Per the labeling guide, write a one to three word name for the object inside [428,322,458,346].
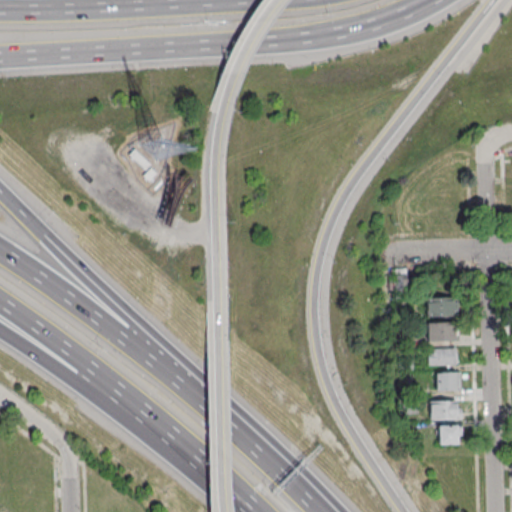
house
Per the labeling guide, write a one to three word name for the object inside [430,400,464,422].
house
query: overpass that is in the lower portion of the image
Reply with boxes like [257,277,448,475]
[208,314,234,512]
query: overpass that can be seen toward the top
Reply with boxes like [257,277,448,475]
[211,0,292,111]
